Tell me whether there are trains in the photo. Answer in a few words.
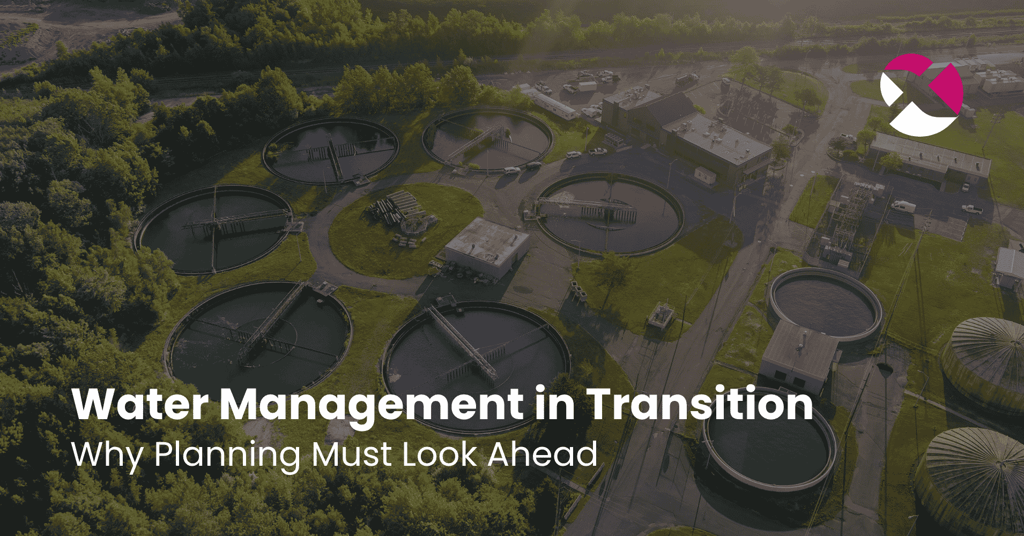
No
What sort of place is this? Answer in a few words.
industrial area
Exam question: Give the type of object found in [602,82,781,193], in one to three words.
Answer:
building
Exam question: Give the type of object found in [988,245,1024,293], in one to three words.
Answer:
shed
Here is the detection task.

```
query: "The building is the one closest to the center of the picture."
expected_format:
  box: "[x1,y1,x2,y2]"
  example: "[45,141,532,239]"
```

[445,216,530,280]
